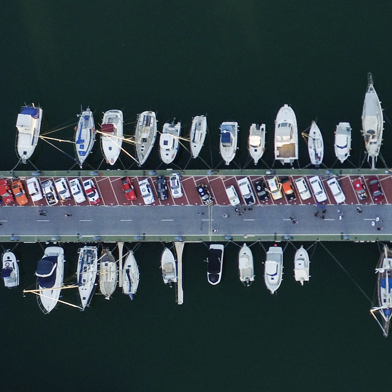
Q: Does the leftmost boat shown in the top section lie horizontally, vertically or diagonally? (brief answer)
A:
vertically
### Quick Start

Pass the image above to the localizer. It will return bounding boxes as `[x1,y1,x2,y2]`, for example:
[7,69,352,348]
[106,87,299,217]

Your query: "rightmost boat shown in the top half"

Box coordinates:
[359,72,386,169]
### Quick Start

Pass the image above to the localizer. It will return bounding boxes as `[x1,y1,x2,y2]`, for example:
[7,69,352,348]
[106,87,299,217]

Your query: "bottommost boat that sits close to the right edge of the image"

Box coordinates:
[322,242,392,337]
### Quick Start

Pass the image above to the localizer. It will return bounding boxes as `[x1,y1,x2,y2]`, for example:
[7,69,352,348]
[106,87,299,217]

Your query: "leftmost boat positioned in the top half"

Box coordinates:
[10,105,44,171]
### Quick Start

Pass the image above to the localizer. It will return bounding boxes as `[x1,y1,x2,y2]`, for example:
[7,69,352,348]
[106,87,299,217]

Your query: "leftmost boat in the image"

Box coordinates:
[0,245,19,287]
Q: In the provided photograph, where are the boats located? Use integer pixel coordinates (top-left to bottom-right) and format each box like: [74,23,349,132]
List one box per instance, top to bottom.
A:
[359,72,386,169]
[272,100,300,168]
[10,105,44,171]
[39,109,98,169]
[97,109,124,170]
[98,111,158,169]
[158,115,210,169]
[155,120,181,170]
[301,121,327,170]
[218,122,239,168]
[248,122,268,169]
[333,123,353,165]
[34,242,68,313]
[203,242,227,285]
[231,242,258,284]
[260,242,286,296]
[322,242,392,337]
[294,244,312,284]
[0,245,19,287]
[24,245,99,310]
[98,245,119,299]
[160,245,178,285]
[103,252,141,296]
